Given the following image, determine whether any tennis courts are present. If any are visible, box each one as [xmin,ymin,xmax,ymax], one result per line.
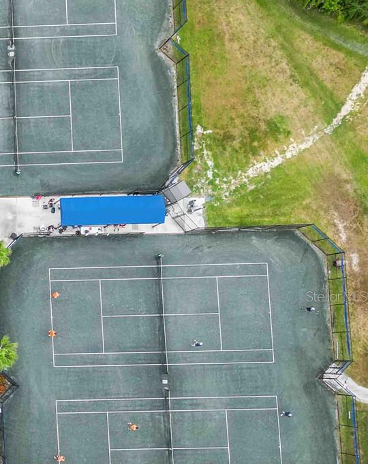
[6,377,341,464]
[0,231,330,385]
[0,48,179,195]
[0,0,172,50]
